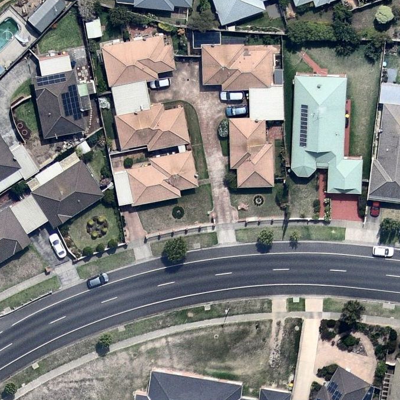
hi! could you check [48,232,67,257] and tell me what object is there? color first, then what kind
white car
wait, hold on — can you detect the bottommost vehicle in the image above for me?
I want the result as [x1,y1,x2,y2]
[85,273,109,288]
